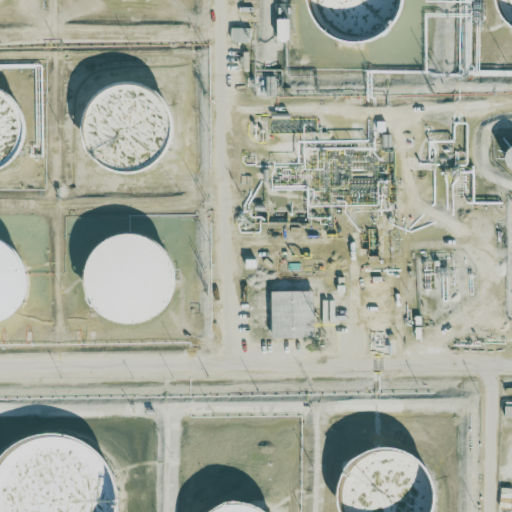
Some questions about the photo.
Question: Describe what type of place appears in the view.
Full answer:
This looks like an industrial area.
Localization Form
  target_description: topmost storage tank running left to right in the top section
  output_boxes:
[308,0,405,42]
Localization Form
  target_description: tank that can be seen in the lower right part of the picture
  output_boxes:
[336,446,436,512]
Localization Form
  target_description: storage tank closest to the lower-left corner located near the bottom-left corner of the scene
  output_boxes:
[0,432,120,512]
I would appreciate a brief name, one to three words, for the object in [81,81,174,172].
storage tank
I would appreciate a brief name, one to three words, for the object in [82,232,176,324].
storage tank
